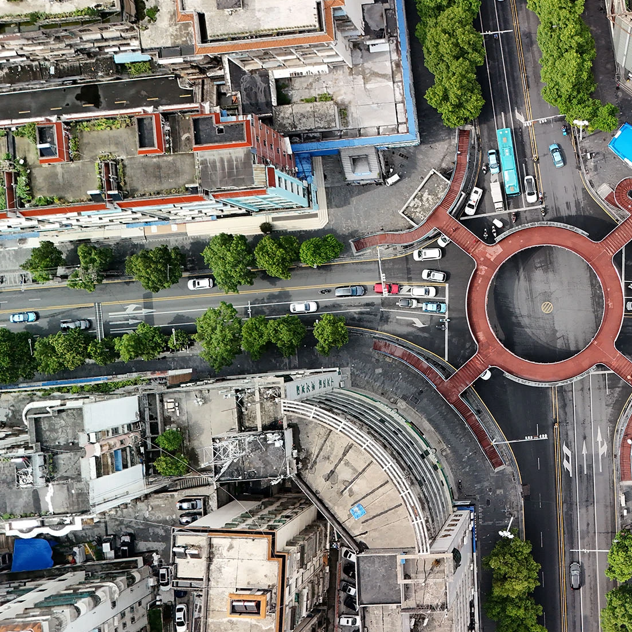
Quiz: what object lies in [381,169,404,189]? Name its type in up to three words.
vehicle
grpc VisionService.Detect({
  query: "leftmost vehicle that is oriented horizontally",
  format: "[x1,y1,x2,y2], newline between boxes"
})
[10,312,38,324]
